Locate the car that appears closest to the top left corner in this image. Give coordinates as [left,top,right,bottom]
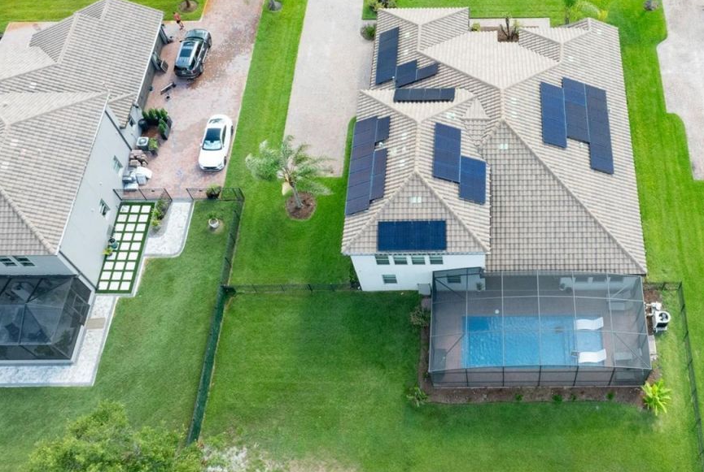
[172,26,210,76]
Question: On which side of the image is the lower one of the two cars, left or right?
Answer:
left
